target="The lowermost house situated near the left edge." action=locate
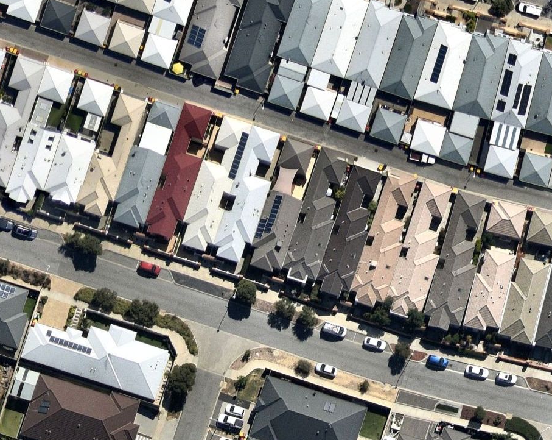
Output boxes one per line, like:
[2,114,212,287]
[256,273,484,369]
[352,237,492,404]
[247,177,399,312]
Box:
[9,368,140,440]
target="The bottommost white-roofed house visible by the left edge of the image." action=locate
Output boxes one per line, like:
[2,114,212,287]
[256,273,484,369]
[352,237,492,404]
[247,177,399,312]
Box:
[25,323,169,400]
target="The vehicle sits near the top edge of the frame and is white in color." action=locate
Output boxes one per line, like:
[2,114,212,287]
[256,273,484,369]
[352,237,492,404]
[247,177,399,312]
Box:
[517,1,542,16]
